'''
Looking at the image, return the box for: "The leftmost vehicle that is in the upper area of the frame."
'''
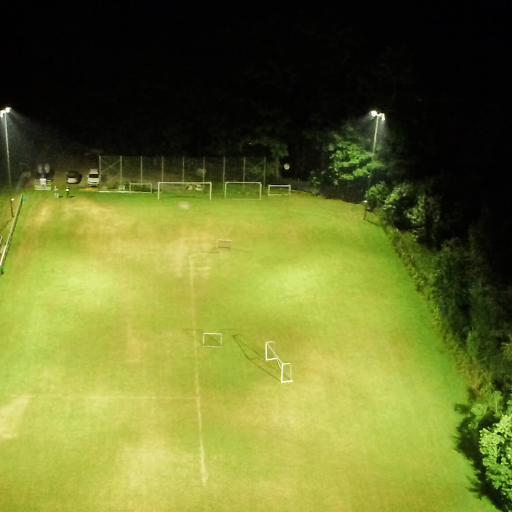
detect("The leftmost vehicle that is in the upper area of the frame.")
[35,165,52,182]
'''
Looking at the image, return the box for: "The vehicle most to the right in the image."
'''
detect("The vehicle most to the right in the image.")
[63,165,79,181]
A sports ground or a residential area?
sports ground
